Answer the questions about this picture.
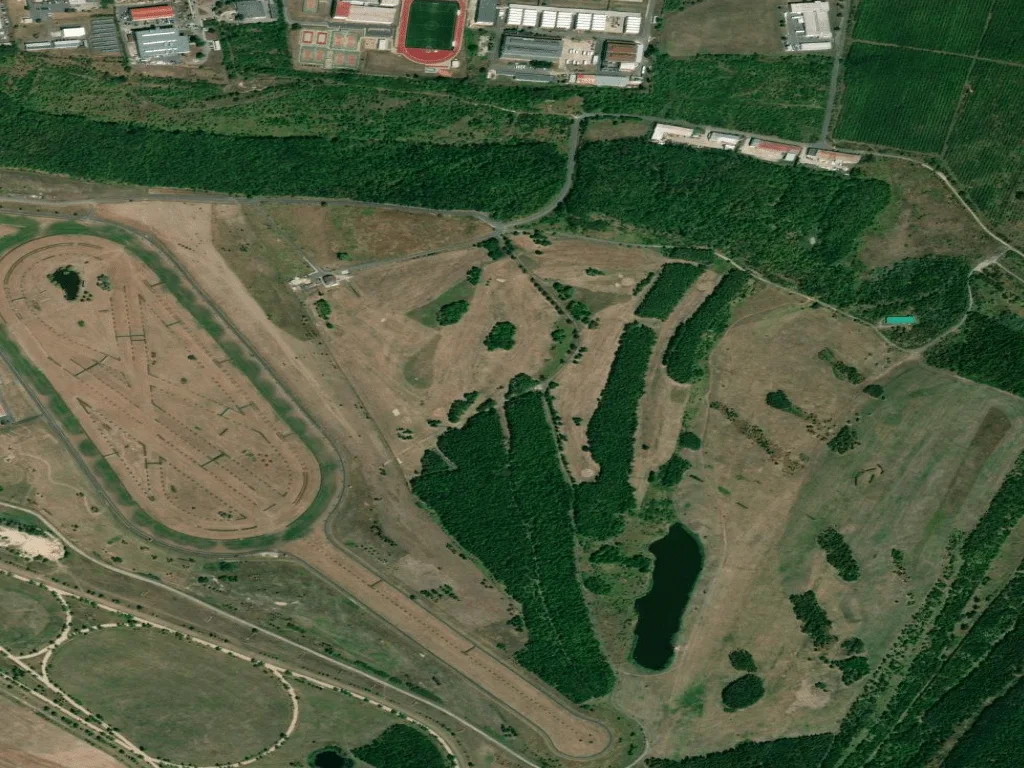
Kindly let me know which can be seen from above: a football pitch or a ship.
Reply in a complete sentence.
The one in the frame is a football pitch.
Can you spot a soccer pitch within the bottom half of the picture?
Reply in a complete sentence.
No, no soccer pitch can be made out within the bottom half of the picture.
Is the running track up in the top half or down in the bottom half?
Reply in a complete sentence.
It is in the top half that the running track appears.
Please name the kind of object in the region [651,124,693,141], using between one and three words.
building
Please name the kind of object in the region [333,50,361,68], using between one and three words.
sports court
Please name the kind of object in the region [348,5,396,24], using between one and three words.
building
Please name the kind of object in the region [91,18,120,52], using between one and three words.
greenhouse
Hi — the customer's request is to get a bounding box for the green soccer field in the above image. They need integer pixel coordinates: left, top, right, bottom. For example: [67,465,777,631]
[405,1,459,50]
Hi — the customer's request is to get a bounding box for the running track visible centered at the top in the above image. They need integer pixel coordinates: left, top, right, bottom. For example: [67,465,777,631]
[396,0,469,66]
